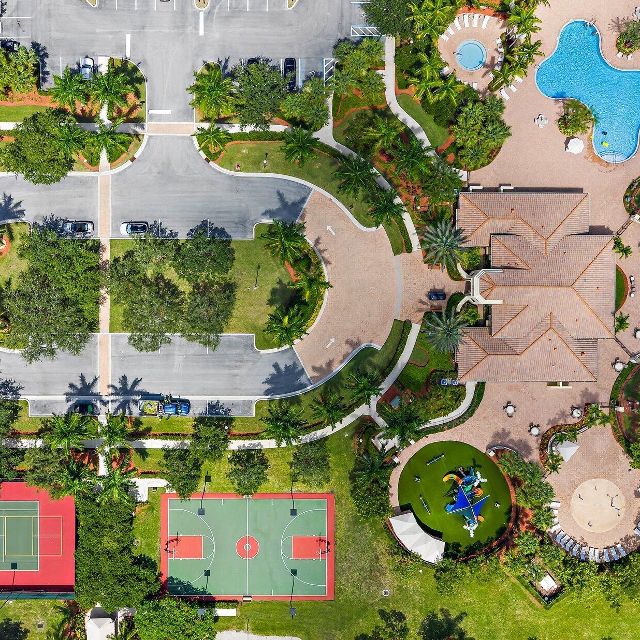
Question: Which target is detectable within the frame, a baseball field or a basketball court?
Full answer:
Looking from above, you can make out a basketball court.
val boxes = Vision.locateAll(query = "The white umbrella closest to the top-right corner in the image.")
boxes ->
[566,138,584,154]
